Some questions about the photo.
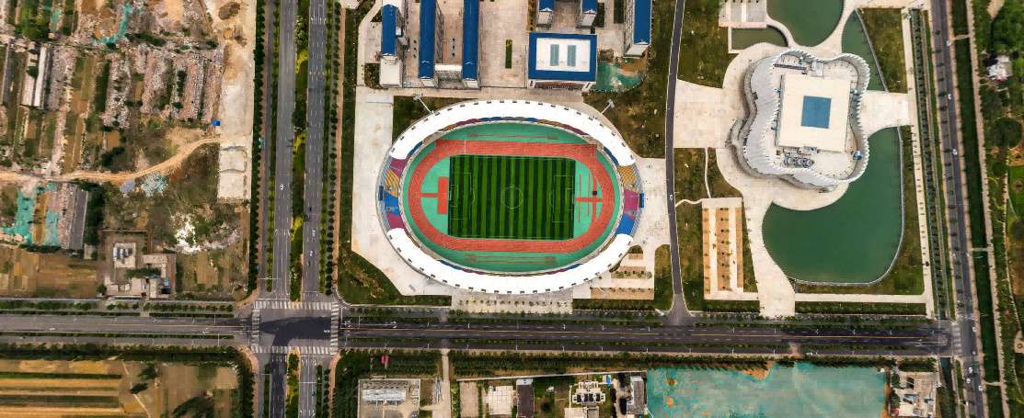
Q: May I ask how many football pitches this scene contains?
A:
1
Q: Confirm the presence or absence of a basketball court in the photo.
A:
No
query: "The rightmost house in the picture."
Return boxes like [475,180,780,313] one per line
[982,56,1012,82]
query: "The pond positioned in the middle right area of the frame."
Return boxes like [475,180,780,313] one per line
[762,128,904,283]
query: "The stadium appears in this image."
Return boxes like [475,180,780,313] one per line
[378,99,645,294]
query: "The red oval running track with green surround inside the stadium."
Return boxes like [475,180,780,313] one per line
[403,122,620,271]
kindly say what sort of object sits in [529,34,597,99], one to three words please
building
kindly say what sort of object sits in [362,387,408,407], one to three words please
building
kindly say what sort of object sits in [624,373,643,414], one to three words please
house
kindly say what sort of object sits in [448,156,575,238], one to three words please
soccer field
